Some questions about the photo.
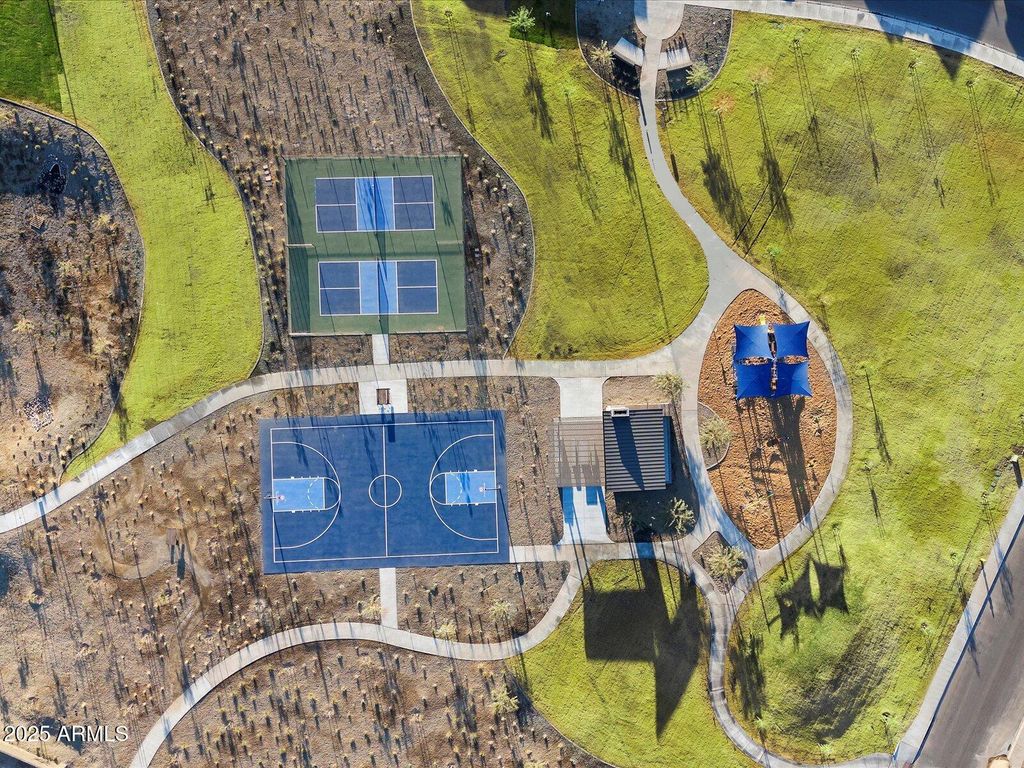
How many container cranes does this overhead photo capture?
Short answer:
none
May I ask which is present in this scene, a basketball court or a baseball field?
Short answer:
basketball court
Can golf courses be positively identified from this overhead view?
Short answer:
No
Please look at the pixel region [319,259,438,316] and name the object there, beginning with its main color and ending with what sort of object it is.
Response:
blue sports court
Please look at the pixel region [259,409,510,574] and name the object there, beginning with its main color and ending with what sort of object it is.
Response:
blue basketball court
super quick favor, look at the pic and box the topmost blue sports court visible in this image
[315,175,435,233]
